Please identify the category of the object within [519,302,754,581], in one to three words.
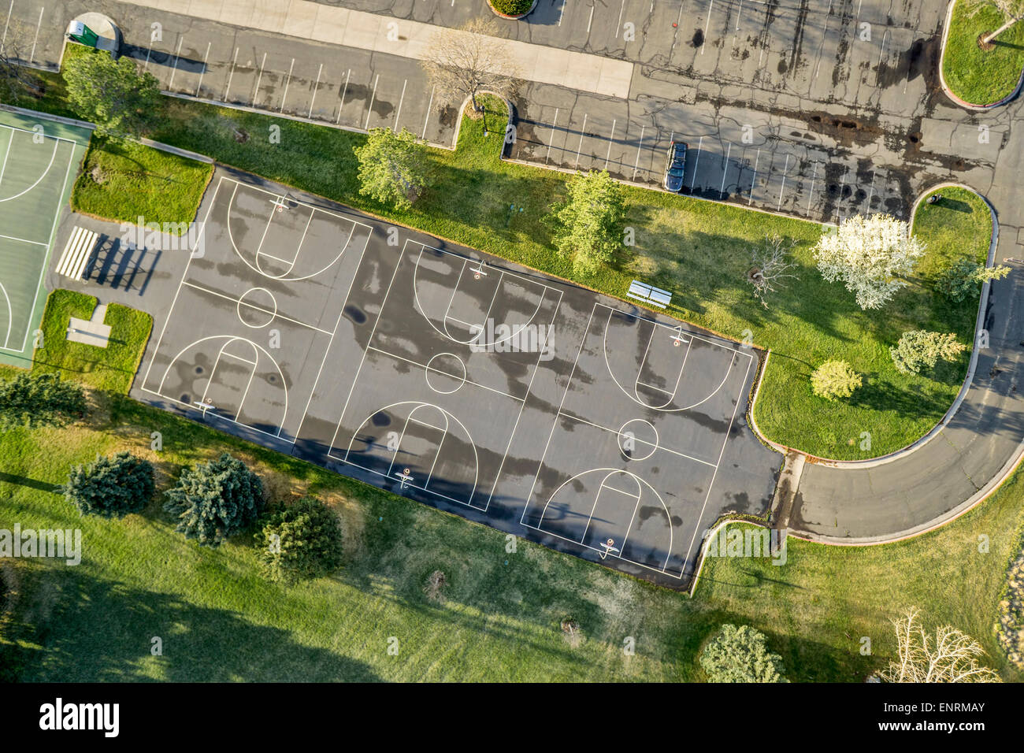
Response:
basketball court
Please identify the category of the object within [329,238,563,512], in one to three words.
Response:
basketball court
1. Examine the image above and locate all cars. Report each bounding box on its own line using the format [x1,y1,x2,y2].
[661,140,690,193]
